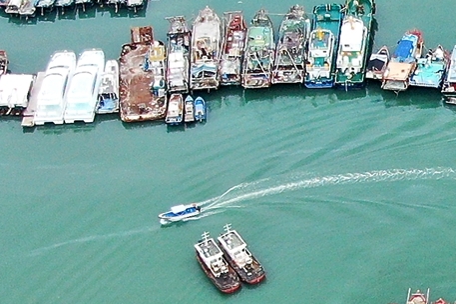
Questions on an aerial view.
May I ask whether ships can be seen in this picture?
Yes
